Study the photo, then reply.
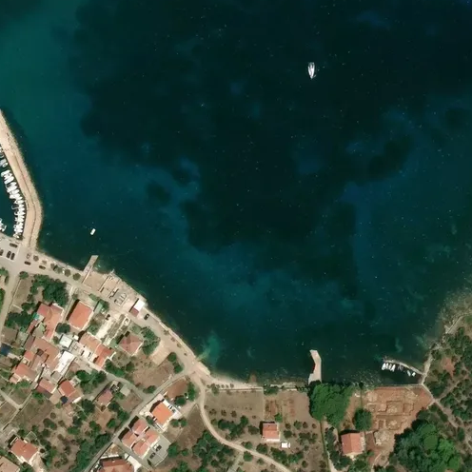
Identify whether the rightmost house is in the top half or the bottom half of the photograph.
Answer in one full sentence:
It is in the bottom half that the rightmost house appears.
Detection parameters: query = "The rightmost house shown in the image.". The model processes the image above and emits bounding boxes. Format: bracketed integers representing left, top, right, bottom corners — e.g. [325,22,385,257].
[340,431,366,457]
